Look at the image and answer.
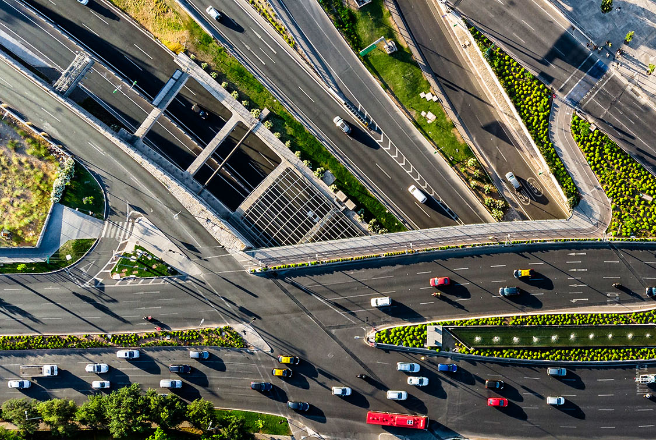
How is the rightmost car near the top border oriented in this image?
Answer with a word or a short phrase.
diagonally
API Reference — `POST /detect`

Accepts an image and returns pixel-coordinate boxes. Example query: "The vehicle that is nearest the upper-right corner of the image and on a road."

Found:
[504,168,522,192]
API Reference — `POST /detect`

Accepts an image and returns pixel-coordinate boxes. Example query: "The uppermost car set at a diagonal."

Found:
[204,3,225,24]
